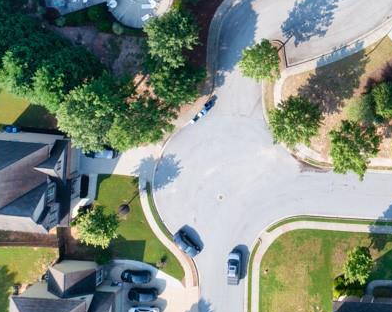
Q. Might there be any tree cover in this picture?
Yes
